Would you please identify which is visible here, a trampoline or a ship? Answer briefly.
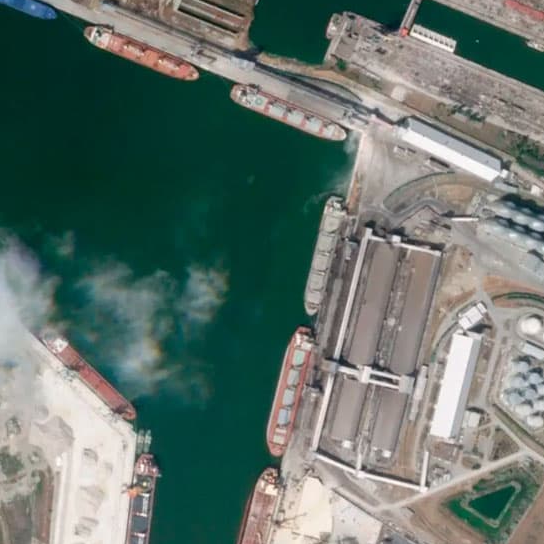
ship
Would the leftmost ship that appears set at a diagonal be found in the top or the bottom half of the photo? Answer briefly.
bottom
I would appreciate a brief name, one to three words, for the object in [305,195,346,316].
ship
